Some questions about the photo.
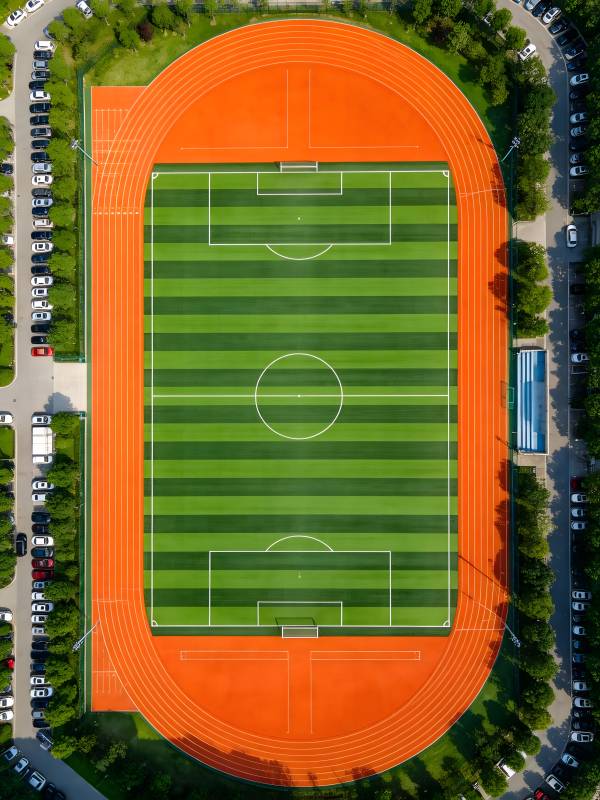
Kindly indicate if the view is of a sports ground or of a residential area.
sports ground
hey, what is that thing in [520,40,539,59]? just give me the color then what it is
white car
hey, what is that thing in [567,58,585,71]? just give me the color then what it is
black vehicle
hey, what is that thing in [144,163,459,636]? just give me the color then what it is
green sports field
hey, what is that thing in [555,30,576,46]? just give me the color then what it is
black car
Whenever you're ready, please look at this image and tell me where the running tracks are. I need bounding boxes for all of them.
[86,17,517,792]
